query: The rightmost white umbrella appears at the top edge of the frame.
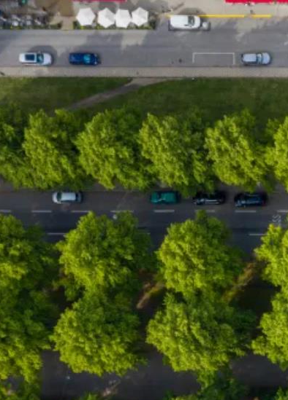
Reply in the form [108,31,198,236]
[132,8,148,26]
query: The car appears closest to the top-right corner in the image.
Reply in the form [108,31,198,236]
[240,50,271,66]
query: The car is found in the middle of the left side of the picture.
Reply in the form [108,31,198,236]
[54,189,83,205]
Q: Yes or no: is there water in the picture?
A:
No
